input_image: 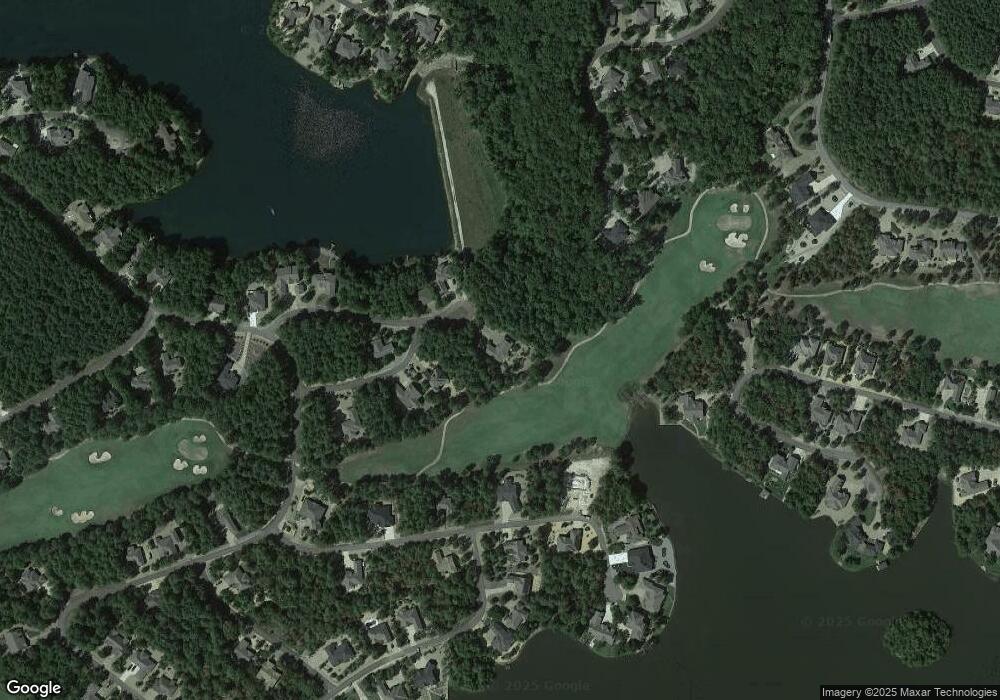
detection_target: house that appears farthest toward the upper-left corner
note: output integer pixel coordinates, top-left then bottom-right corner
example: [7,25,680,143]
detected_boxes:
[9,75,29,99]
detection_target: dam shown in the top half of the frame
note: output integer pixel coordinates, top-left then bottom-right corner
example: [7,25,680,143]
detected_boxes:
[416,64,504,250]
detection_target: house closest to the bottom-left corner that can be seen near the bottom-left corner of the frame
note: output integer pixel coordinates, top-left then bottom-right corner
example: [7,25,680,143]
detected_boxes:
[4,631,27,653]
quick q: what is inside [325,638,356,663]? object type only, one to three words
house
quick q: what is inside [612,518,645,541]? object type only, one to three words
house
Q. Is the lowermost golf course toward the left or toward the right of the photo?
left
